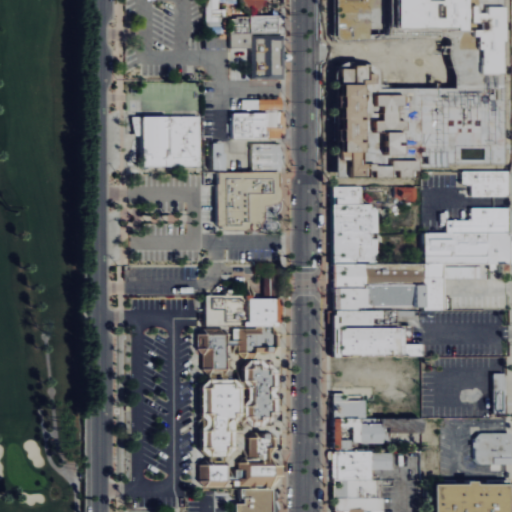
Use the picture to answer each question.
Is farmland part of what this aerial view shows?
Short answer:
No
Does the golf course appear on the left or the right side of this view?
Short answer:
left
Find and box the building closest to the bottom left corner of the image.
[195,464,230,488]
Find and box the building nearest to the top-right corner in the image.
[470,7,507,76]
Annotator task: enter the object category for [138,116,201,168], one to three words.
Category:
building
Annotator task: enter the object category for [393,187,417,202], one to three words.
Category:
house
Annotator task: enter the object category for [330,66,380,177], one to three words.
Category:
building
